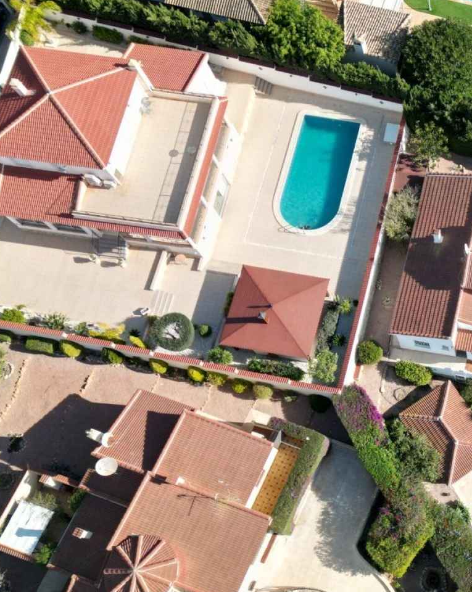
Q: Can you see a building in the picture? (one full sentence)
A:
Yes, there's a building here.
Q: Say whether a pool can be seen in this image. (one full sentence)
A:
Yes, there's a pool here.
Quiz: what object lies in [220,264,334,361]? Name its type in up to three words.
gazebo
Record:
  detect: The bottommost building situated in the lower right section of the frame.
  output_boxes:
[397,378,472,486]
